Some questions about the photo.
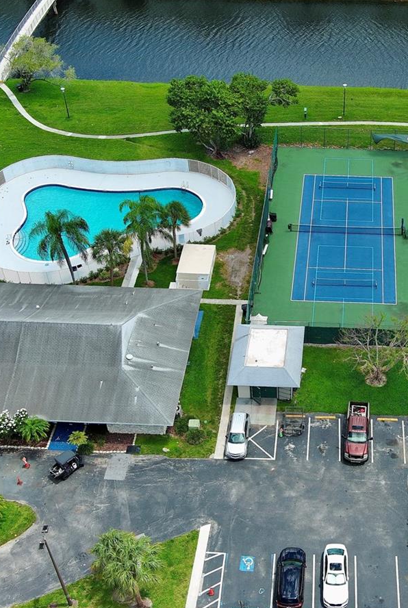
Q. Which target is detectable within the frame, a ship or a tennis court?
tennis court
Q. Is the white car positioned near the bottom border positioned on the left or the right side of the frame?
right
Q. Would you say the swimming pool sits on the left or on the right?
left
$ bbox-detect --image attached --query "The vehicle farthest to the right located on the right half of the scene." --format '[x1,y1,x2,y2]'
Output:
[344,405,372,460]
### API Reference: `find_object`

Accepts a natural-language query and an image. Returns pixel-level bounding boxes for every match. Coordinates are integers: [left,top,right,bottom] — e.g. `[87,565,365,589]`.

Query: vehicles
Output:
[41,447,84,481]
[344,405,372,460]
[320,543,350,604]
[222,408,251,457]
[275,548,306,608]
